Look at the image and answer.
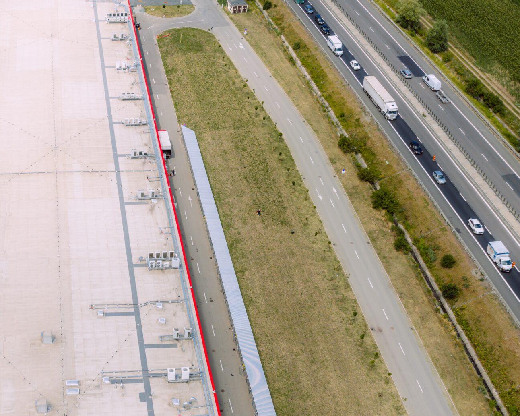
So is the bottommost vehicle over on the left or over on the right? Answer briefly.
right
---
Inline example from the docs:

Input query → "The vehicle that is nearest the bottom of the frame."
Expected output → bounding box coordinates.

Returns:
[489,239,514,272]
